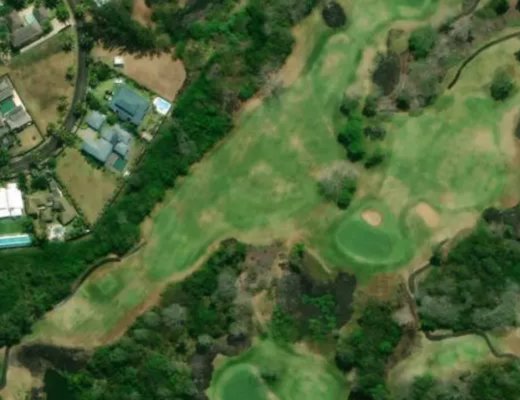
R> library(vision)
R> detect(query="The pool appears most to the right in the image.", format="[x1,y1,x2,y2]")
[154,96,172,115]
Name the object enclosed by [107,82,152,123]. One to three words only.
house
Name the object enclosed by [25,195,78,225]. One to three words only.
house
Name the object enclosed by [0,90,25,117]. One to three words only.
swimming pool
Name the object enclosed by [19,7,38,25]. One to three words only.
swimming pool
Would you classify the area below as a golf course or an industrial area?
golf course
